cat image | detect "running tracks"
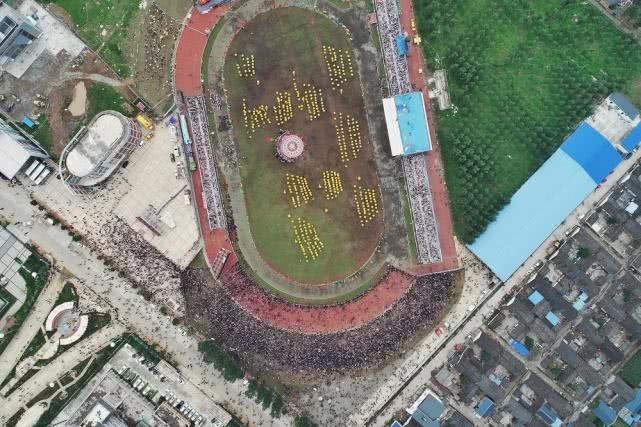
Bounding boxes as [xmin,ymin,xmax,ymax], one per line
[205,0,418,305]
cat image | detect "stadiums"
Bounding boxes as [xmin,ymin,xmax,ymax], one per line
[175,0,464,334]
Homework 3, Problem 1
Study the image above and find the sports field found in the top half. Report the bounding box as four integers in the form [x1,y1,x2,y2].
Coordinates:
[220,4,387,287]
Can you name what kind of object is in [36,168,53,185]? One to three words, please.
vehicle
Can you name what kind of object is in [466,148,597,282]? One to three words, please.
shed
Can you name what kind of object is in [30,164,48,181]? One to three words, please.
vehicle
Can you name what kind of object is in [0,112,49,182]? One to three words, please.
building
